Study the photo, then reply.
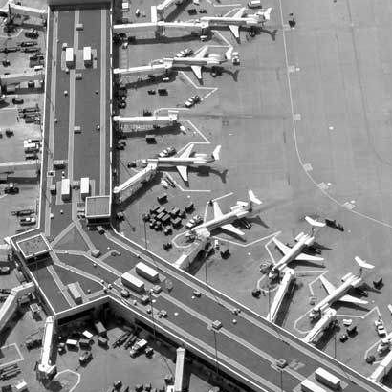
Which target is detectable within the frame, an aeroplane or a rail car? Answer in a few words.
aeroplane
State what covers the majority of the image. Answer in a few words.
paved ground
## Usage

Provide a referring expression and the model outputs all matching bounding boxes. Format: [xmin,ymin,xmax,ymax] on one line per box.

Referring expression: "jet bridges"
[113,109,179,136]
[174,227,212,270]
[38,314,60,384]
[369,337,392,383]
[0,160,42,185]
[0,280,37,338]
[114,157,158,208]
[0,71,44,96]
[172,345,187,392]
[112,59,174,88]
[155,0,186,21]
[300,305,336,346]
[156,21,209,42]
[0,0,46,26]
[266,266,294,325]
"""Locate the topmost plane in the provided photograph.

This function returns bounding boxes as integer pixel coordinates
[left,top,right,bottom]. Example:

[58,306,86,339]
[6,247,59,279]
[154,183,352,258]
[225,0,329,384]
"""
[192,3,271,36]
